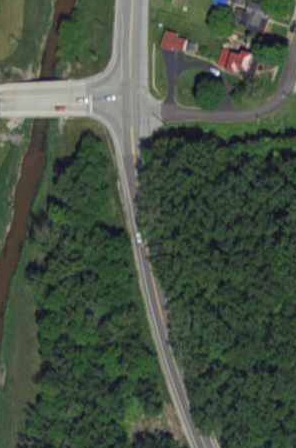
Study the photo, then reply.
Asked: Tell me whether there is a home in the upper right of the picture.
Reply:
Yes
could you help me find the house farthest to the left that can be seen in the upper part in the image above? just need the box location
[159,28,190,52]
